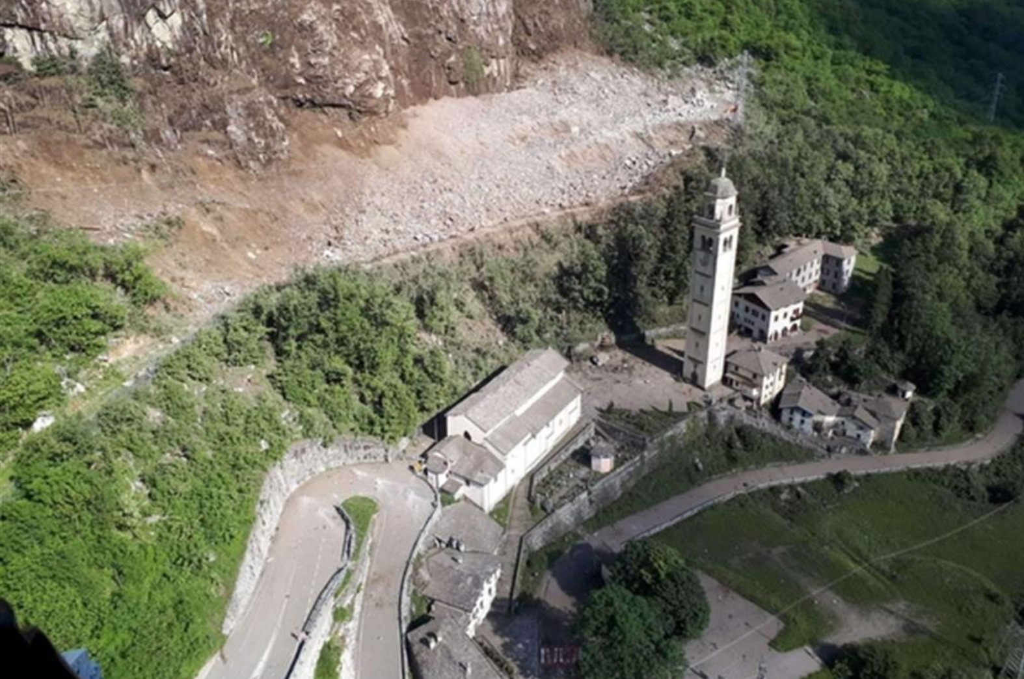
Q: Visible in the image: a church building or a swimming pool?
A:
church building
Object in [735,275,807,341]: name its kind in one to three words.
house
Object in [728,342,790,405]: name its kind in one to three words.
house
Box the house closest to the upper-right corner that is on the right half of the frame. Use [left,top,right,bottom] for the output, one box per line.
[810,231,862,293]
